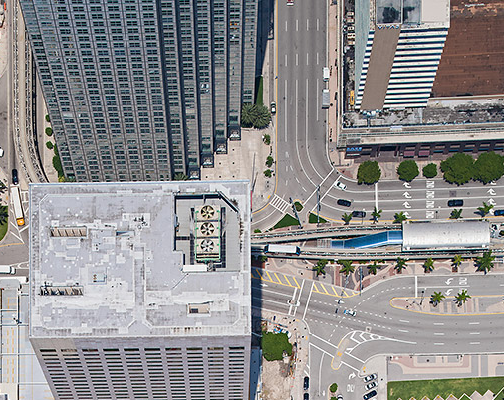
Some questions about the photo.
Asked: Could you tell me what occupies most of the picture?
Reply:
buildings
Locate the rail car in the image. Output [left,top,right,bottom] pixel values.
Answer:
[265,244,300,257]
